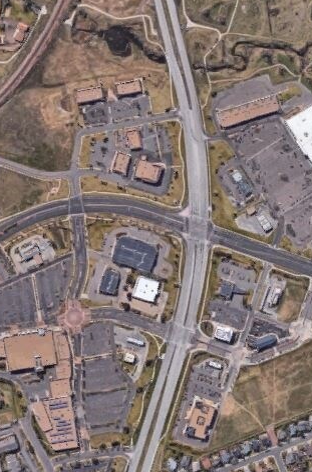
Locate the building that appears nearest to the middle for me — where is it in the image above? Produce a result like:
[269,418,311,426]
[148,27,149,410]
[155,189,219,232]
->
[112,237,160,273]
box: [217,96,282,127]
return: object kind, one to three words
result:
building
